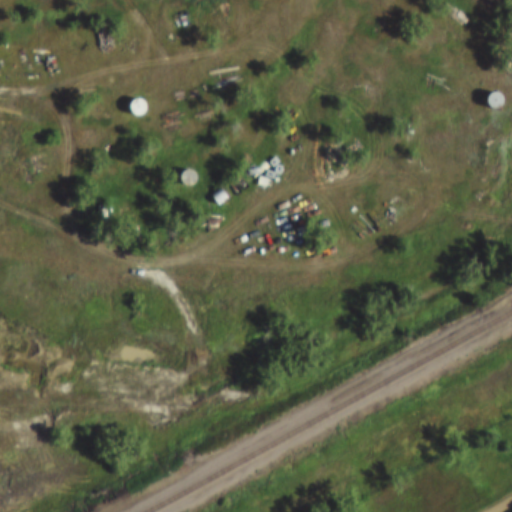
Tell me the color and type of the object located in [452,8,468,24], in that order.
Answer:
white camper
